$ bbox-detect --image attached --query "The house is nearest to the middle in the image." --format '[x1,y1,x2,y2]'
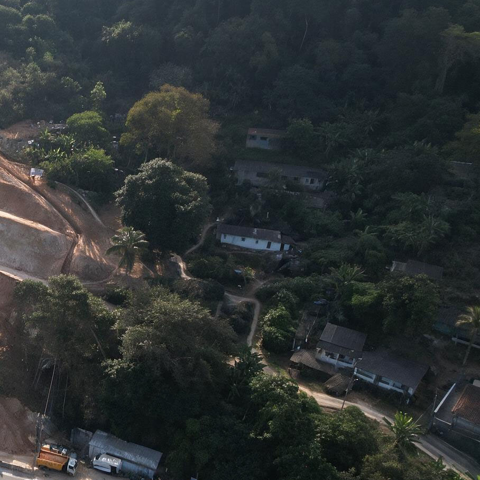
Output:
[217,224,287,252]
